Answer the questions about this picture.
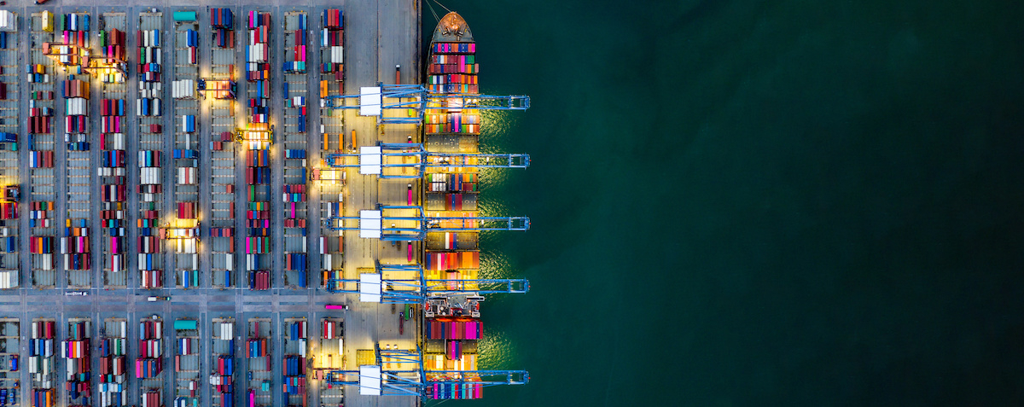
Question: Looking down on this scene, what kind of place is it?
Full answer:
This looks like a port.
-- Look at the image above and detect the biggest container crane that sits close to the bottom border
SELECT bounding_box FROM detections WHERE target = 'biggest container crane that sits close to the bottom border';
[325,339,530,397]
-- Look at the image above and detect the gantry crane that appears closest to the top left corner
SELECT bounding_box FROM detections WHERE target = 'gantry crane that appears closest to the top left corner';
[42,41,92,62]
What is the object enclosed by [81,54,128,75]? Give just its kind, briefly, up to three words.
container crane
